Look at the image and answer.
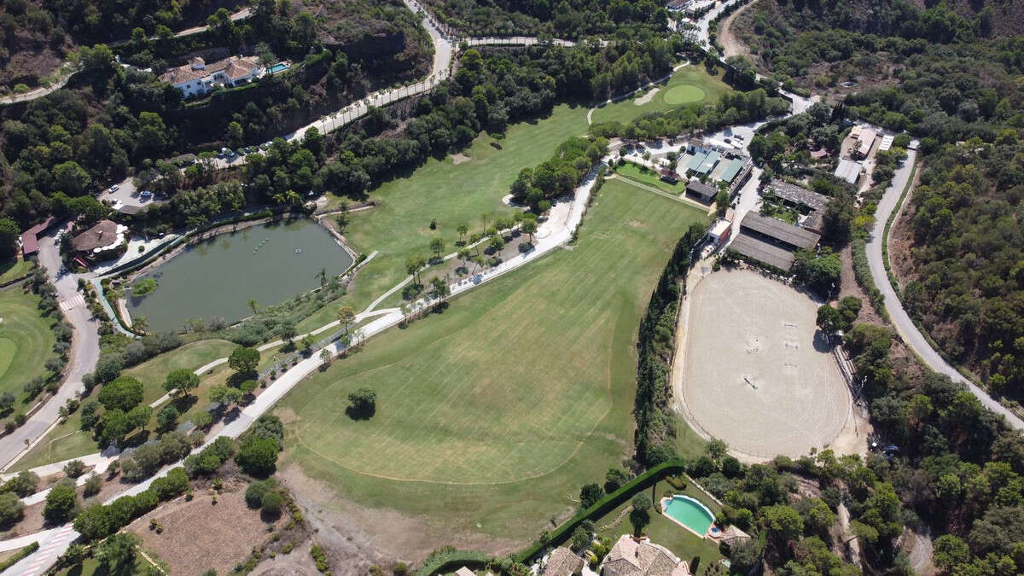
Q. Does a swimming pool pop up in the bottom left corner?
No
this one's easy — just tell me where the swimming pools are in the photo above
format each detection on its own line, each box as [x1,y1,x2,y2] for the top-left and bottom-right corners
[707,524,722,537]
[660,491,716,536]
[267,62,288,73]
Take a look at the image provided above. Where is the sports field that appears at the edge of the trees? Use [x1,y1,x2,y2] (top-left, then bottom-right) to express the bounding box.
[277,175,709,566]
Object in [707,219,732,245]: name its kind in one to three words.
building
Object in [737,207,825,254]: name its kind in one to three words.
building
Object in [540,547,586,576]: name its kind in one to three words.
house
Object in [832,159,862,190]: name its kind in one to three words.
shed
